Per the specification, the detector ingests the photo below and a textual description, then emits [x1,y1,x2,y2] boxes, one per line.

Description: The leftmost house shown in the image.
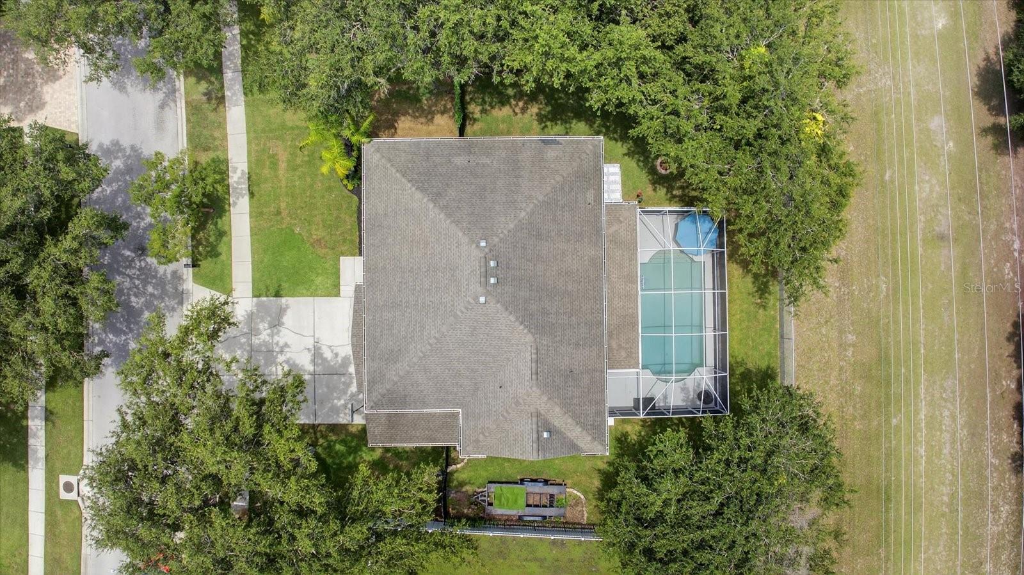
[351,133,644,464]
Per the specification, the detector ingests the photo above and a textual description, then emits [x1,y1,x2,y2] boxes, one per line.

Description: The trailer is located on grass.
[471,476,567,523]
